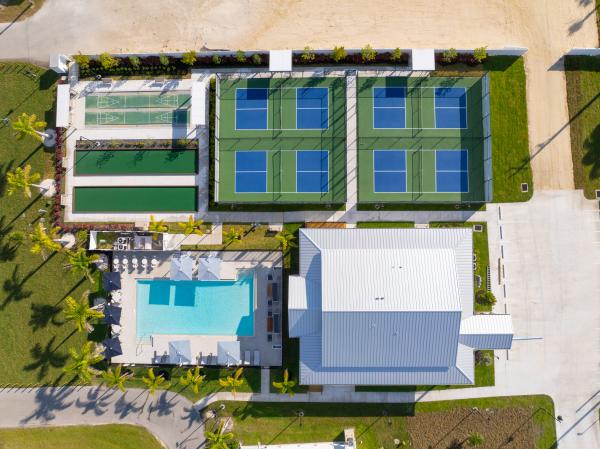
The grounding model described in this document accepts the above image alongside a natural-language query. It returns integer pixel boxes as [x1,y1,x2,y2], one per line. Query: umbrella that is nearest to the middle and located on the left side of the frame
[197,256,222,280]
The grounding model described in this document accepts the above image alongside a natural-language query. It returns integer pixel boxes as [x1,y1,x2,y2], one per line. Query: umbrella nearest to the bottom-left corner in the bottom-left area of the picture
[101,335,125,359]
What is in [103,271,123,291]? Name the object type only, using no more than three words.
umbrella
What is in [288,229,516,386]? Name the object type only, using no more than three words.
building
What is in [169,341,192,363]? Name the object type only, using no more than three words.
umbrella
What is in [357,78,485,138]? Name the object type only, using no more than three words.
sports court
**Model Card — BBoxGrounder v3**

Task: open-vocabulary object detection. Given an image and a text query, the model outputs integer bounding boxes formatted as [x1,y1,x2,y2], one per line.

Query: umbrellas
[169,255,194,280]
[101,335,125,359]
[197,256,222,280]
[217,341,240,363]
[103,303,124,324]
[169,341,192,363]
[103,271,123,291]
